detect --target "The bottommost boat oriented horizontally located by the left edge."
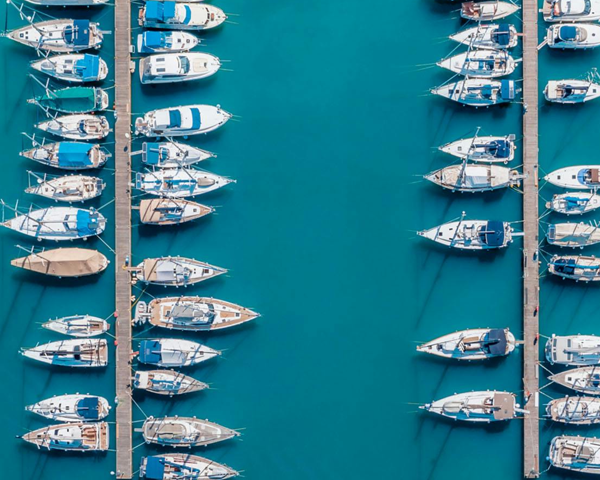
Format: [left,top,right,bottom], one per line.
[10,421,118,453]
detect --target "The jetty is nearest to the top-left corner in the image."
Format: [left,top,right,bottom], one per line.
[115,0,133,479]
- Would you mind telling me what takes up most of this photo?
water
